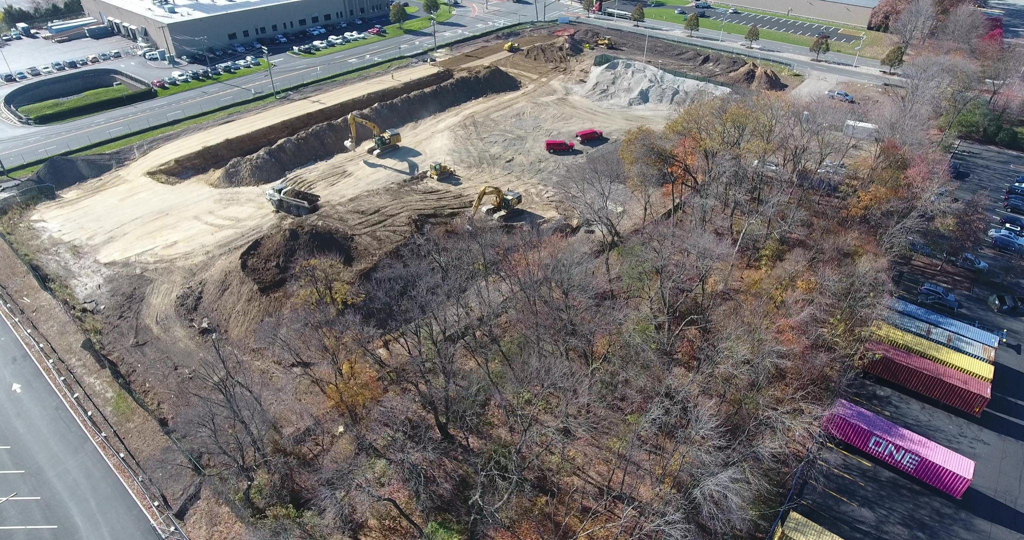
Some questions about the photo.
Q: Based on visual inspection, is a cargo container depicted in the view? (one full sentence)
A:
Yes, looking at the shot, I can spot a cargo container.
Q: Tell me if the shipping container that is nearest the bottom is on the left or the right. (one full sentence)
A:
You can find the shipping container that is nearest the bottom on the right side of the picture.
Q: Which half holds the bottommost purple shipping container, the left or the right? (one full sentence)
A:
The bottommost purple shipping container is on the right side of the image.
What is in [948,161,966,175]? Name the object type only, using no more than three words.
car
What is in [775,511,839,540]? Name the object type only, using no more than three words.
shipping container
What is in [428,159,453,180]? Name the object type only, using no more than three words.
work vehicle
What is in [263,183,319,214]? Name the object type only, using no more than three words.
truck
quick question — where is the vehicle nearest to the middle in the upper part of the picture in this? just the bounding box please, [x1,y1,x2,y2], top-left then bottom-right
[463,183,525,227]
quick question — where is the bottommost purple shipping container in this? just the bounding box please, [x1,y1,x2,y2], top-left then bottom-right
[822,399,975,499]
